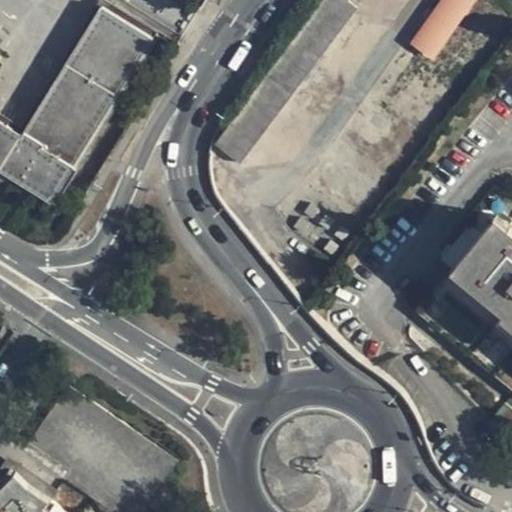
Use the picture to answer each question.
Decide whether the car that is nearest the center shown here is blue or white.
white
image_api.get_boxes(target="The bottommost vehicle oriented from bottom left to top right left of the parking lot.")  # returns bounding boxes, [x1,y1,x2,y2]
[253,416,271,434]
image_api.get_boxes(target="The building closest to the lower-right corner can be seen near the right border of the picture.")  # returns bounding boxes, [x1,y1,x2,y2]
[474,320,512,376]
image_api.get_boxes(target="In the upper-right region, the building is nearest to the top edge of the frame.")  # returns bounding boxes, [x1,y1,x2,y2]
[410,0,476,60]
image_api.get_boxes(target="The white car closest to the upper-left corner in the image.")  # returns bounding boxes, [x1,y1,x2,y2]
[178,64,198,86]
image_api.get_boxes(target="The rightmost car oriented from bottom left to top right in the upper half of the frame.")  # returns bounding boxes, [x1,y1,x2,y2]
[257,4,275,24]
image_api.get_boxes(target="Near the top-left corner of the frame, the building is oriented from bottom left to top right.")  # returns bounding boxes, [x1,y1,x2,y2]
[21,4,156,168]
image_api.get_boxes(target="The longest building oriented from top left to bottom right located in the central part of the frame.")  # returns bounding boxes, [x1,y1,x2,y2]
[294,215,324,240]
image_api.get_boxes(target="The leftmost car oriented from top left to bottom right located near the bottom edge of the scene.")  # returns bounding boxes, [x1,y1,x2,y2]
[414,472,435,492]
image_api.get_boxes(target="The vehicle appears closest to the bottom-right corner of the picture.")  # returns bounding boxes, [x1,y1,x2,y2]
[461,482,490,504]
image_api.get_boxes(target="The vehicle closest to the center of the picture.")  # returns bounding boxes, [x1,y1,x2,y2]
[246,268,266,288]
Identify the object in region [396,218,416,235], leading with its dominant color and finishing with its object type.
blue car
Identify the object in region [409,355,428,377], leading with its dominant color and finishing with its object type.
white car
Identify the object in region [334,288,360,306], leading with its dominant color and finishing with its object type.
white vehicle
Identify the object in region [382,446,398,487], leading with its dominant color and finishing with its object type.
white vehicle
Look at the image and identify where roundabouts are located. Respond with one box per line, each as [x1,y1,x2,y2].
[258,408,376,512]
